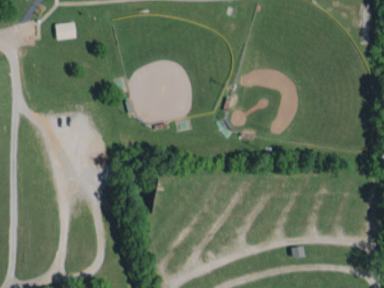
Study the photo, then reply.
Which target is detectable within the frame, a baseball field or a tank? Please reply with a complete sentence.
Looking from above, you can make out a baseball field.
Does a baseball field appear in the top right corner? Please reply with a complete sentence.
Yes, a baseball field shows up in the top right corner.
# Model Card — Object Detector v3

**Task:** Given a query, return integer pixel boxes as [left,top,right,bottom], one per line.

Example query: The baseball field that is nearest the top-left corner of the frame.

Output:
[114,15,232,124]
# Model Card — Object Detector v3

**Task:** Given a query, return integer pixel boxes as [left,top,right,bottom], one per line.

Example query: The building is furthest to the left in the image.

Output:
[55,21,76,39]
